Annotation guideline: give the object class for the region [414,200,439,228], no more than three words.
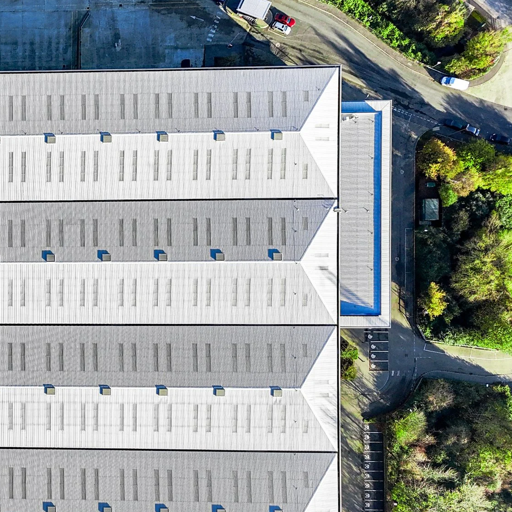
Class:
shed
